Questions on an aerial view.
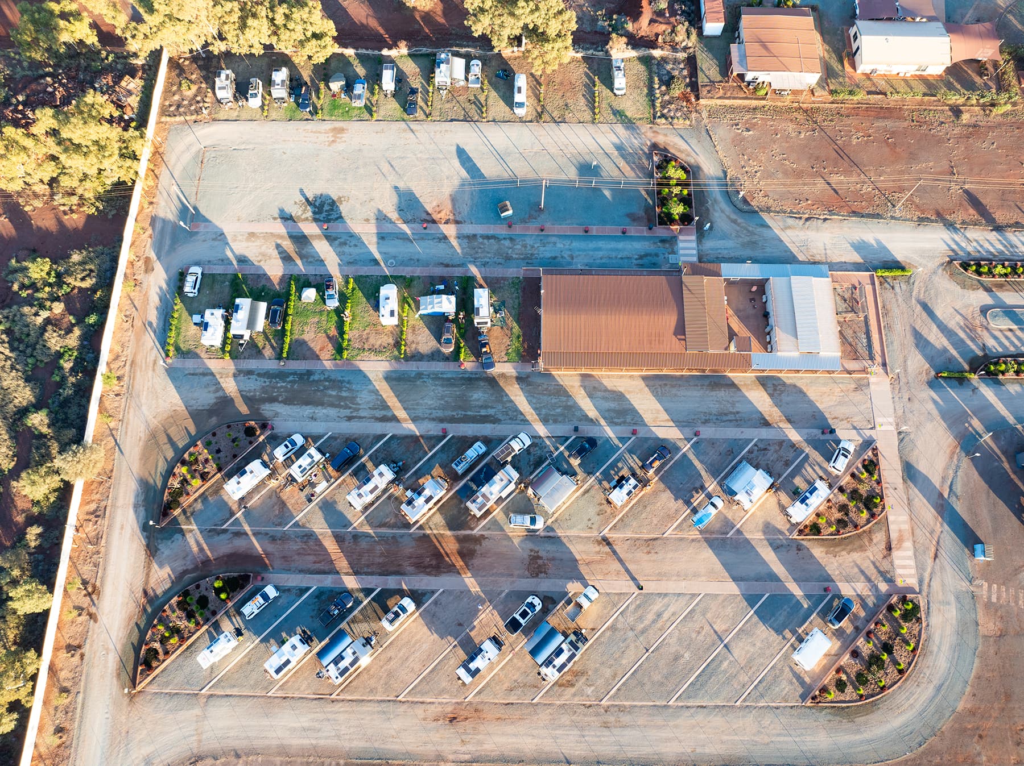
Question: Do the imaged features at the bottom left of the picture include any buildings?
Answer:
No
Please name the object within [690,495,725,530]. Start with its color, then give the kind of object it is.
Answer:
white truck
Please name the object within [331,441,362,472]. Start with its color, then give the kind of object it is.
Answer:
blue car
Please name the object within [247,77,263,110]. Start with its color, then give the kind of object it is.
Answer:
white vehicle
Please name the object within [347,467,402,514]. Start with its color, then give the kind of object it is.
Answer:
white camper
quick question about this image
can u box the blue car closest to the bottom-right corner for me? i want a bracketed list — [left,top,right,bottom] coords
[825,596,857,631]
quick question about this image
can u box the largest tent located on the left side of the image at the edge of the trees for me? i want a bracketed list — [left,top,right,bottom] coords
[328,71,345,91]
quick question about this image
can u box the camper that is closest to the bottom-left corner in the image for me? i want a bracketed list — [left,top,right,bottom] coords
[197,629,247,670]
